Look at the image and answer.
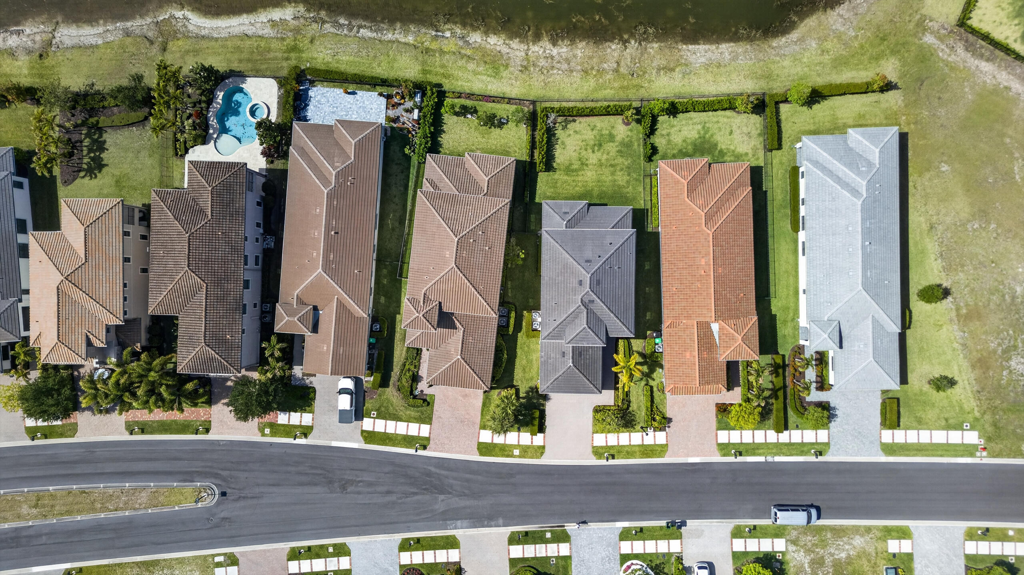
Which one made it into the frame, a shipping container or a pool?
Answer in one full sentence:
The image shows a pool.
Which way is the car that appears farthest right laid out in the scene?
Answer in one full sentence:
I'd say the car that appears farthest right is aligned horizontally in the picture.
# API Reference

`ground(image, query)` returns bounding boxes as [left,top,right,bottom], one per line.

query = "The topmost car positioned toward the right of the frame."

[769,506,814,527]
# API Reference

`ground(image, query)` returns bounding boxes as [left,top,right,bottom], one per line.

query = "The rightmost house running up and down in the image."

[795,125,902,391]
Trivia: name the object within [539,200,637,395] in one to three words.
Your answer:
house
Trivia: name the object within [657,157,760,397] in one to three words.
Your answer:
house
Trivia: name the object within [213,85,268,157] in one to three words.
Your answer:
swimming pool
